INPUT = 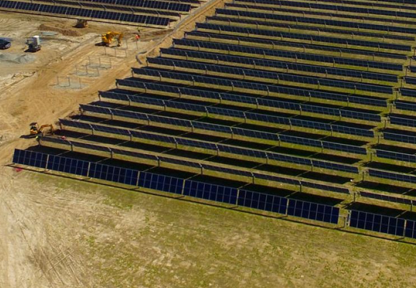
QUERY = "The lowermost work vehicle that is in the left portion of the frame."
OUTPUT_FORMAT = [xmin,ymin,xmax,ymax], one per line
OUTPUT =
[30,121,59,135]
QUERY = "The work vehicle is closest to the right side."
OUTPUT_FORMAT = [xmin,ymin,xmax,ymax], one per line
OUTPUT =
[99,30,128,45]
